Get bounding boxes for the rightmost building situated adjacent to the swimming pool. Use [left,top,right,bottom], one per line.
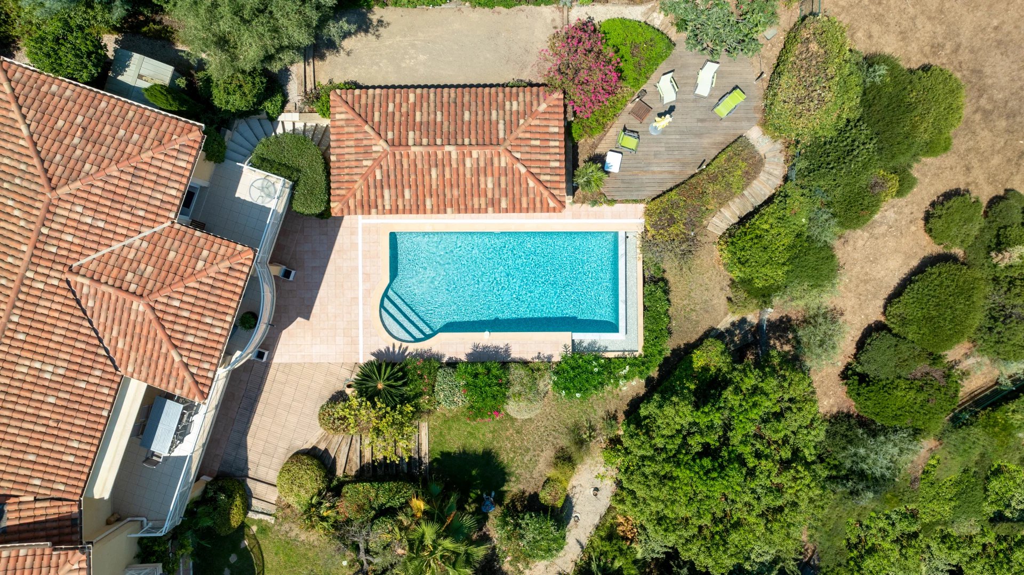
[328,85,568,217]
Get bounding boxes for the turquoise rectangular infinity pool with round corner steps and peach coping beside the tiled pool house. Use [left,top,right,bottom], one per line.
[370,223,644,354]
